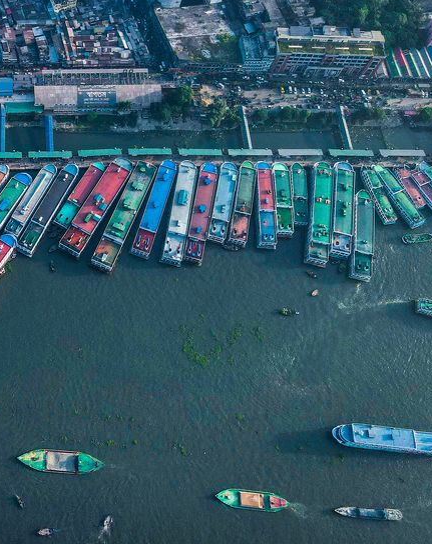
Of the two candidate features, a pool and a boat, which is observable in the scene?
boat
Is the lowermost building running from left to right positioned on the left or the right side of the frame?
left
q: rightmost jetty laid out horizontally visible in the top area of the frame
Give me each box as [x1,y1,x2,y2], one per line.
[372,147,429,169]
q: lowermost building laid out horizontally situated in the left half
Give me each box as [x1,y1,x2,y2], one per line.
[33,84,165,115]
